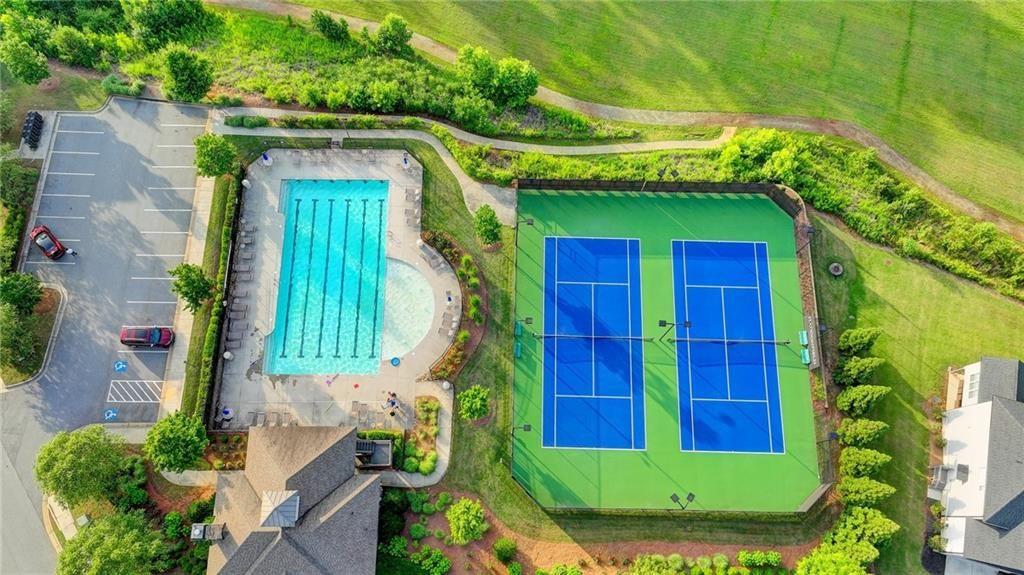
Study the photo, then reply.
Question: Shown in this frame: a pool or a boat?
pool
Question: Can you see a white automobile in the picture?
No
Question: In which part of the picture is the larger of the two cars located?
left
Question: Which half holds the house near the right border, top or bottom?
bottom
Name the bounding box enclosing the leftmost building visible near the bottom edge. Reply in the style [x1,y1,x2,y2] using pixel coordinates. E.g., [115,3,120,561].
[188,426,382,575]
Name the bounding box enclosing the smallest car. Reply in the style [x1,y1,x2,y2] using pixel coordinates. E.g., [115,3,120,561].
[33,227,65,261]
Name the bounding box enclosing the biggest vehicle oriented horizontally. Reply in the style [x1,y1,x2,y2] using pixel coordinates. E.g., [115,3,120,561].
[122,327,174,349]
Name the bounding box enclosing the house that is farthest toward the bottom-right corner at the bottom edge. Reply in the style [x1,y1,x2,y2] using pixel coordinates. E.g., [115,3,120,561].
[927,356,1024,573]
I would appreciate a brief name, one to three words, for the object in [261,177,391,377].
swimming pool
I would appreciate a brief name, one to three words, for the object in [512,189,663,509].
tennis court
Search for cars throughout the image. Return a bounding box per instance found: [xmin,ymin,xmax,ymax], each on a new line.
[33,227,65,261]
[122,327,174,349]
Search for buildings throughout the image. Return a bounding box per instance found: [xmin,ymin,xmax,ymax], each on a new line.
[927,356,1024,573]
[188,426,382,575]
